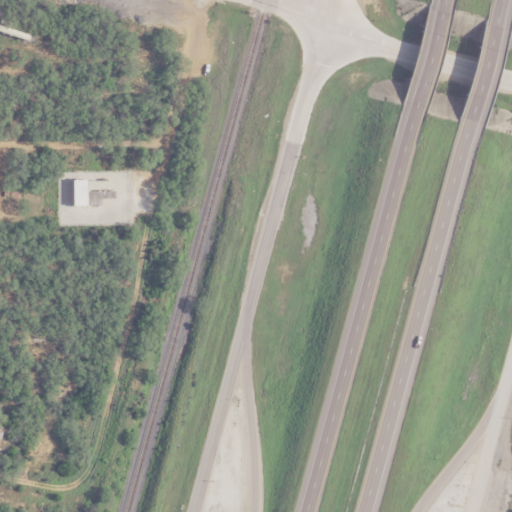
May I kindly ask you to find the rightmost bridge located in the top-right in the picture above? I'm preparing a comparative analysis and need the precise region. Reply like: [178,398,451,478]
[462,9,512,131]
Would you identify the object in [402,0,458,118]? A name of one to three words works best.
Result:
bridge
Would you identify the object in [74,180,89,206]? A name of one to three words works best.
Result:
shed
